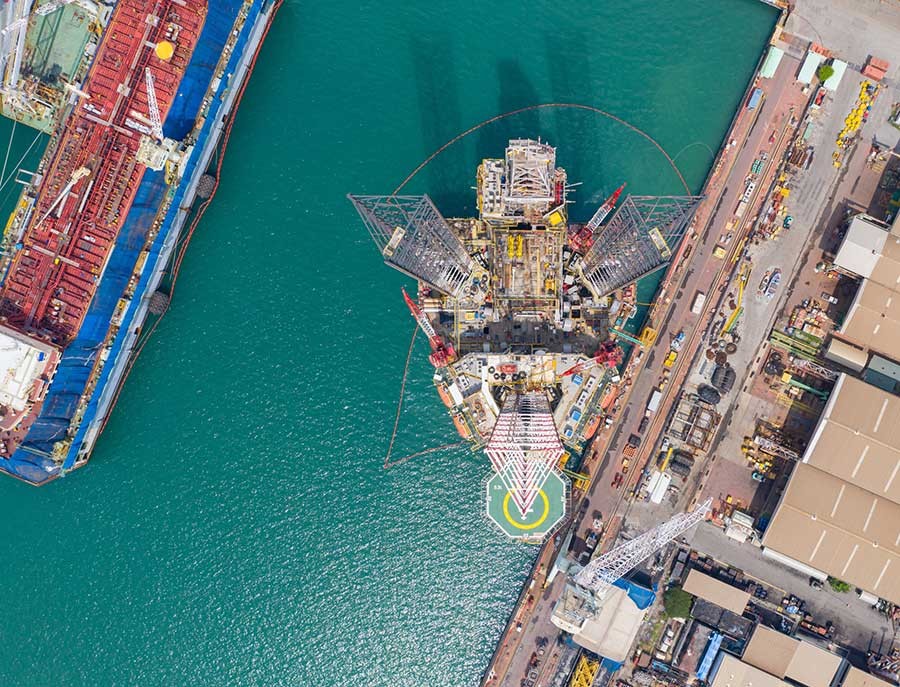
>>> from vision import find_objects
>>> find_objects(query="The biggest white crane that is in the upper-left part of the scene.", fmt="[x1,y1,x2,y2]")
[138,69,195,189]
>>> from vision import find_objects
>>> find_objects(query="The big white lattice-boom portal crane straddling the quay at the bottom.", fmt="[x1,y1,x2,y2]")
[541,501,710,640]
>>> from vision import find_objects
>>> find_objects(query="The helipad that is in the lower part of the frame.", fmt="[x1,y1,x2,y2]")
[481,452,571,544]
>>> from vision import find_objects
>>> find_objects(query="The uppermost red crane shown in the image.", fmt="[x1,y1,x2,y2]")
[568,182,628,255]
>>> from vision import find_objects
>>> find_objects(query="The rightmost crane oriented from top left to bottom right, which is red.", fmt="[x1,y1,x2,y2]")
[402,288,458,367]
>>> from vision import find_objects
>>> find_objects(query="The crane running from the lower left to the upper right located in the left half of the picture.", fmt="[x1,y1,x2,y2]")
[36,164,98,227]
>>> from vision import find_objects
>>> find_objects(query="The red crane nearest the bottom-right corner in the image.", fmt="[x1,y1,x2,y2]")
[560,340,628,377]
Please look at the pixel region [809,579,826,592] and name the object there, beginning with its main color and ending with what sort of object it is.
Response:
gray vehicle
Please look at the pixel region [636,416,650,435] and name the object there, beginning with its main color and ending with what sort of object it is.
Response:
gray vehicle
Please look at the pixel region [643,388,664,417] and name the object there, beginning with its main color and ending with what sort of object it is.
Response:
white truck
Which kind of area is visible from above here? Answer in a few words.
port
